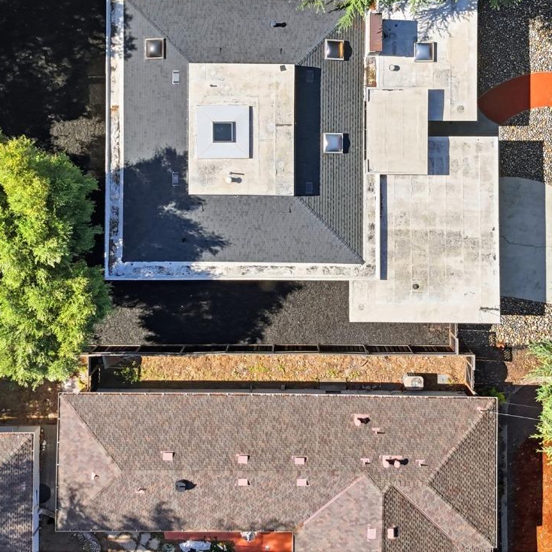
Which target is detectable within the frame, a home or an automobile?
home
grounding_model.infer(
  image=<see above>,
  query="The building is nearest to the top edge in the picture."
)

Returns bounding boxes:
[106,0,499,323]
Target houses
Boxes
[0,424,42,552]
[106,0,499,323]
[53,385,500,552]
